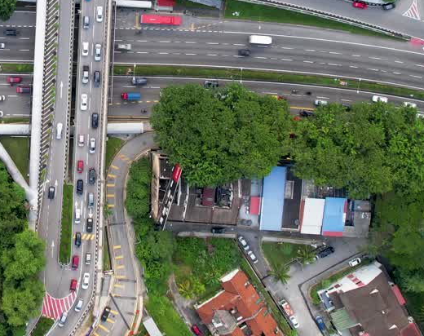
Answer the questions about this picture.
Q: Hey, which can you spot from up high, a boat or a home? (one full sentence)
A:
I can see a home in this picture.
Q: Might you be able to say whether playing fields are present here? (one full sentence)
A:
No, the scene contains no playing field.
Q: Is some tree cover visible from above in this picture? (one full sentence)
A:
Yes, some tree cover is visible.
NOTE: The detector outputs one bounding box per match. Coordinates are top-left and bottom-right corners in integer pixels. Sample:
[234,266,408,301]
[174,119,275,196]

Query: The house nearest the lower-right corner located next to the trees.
[319,262,420,336]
